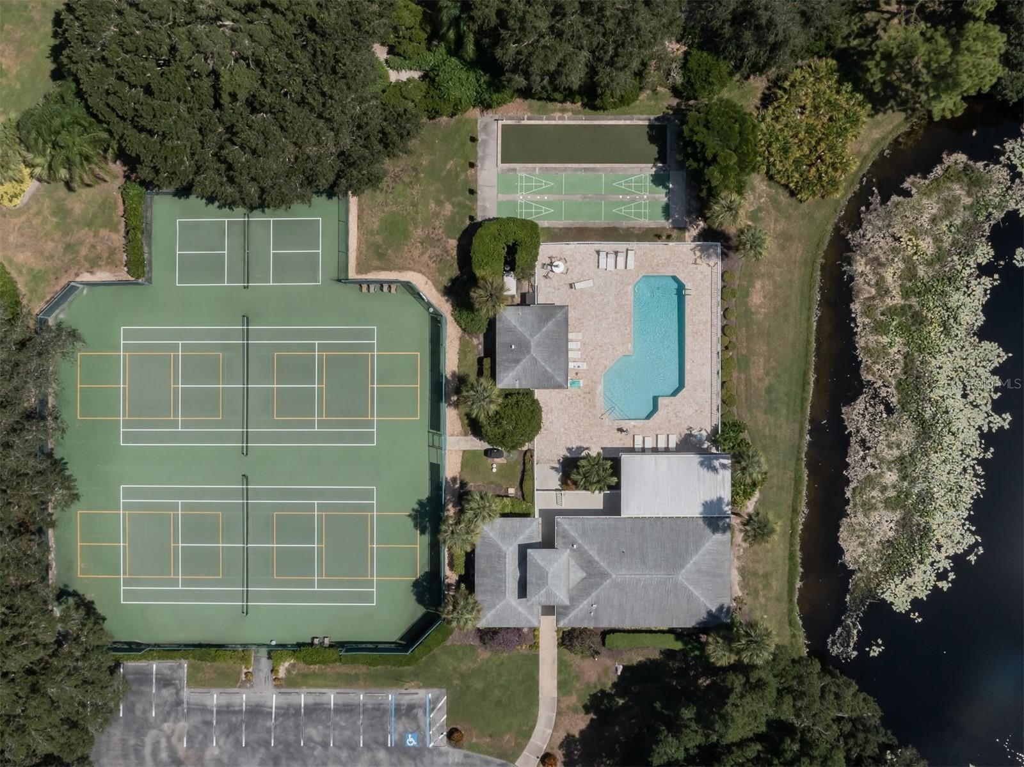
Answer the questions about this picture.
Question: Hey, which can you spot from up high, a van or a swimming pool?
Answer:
swimming pool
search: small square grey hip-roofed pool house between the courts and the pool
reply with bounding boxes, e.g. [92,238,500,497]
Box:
[496,304,569,390]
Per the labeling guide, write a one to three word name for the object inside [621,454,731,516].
building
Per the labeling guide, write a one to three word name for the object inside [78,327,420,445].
tennis court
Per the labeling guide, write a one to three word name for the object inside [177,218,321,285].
sports court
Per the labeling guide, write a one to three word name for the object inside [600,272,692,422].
swimming pool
